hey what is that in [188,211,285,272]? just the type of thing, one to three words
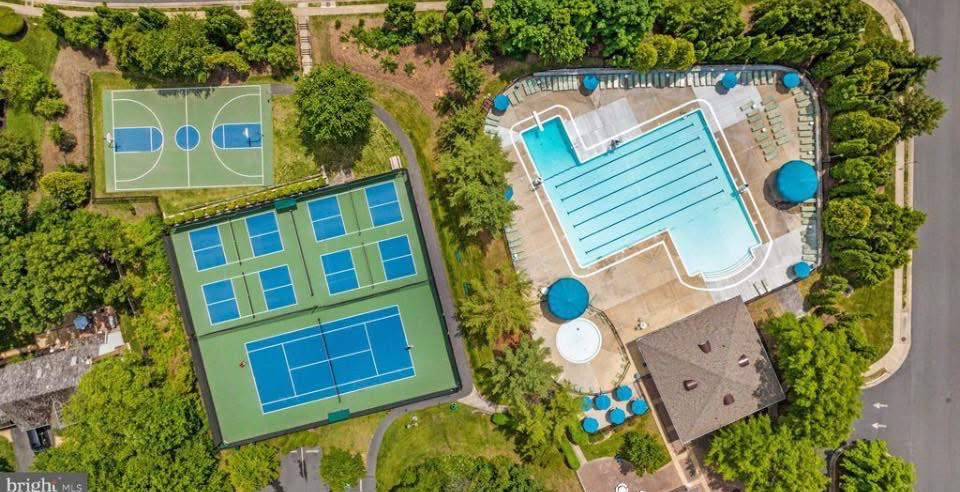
sports court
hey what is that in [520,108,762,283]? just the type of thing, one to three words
swimming pool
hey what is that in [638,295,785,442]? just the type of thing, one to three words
building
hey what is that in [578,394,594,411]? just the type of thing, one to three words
umbrella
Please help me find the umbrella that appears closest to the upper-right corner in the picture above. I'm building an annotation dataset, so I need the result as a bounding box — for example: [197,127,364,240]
[782,71,800,89]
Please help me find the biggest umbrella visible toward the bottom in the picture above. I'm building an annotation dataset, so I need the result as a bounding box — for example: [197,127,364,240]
[548,277,589,319]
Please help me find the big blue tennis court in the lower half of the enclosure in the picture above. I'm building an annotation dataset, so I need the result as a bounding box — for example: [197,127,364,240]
[245,305,416,414]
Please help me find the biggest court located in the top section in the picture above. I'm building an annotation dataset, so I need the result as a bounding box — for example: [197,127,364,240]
[103,83,273,192]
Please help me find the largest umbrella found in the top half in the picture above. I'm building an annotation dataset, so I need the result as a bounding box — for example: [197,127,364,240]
[775,160,817,202]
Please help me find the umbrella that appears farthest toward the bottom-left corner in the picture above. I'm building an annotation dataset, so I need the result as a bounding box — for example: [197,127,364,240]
[73,314,90,331]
